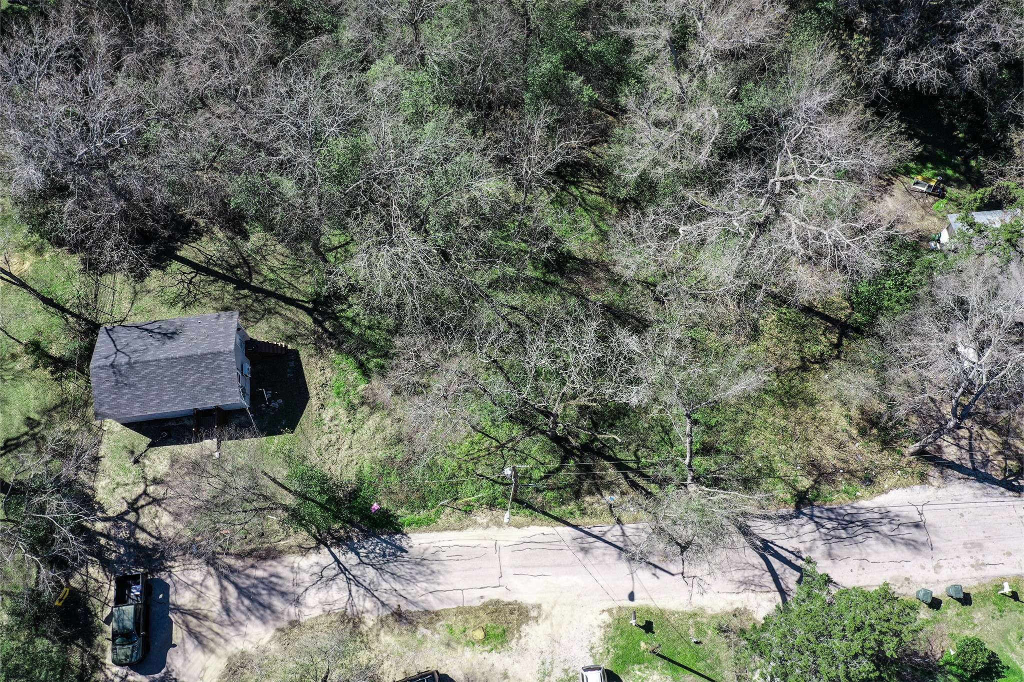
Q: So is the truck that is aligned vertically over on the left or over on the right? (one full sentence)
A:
It is on the left.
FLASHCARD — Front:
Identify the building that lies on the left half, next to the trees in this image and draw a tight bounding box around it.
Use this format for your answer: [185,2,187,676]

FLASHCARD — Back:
[91,311,293,451]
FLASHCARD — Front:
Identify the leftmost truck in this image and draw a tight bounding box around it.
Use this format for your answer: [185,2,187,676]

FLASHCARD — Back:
[104,567,153,670]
